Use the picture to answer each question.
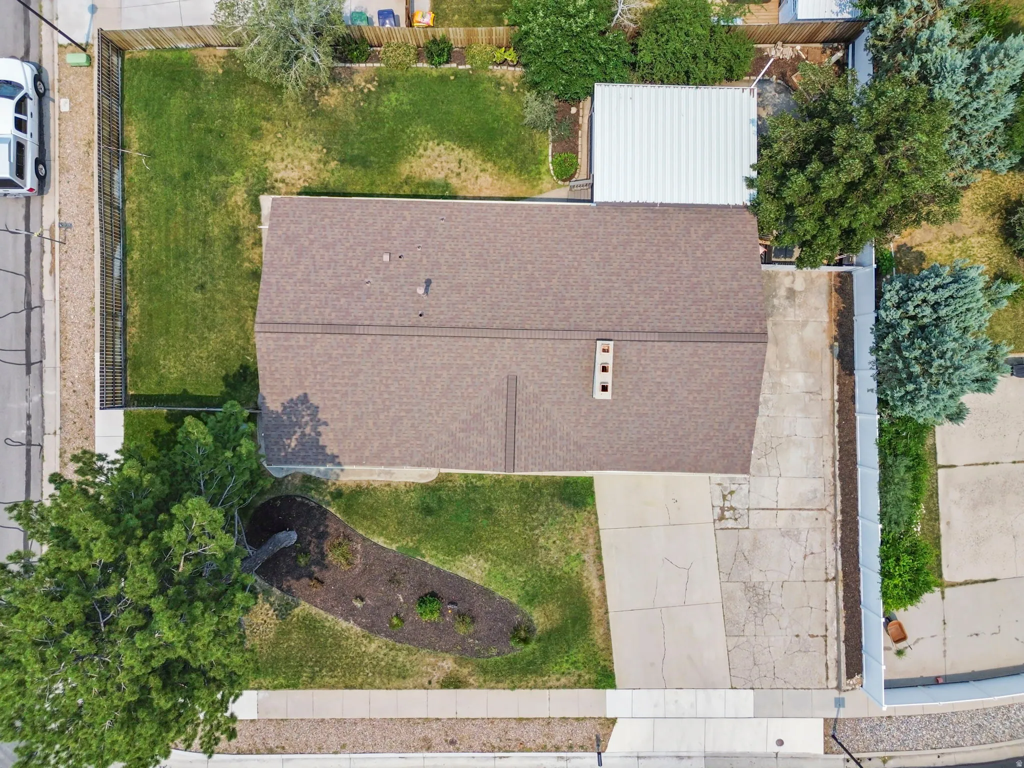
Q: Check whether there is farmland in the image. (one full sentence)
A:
No, there's no farmland in this view.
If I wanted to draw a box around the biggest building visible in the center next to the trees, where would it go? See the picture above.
[254,194,767,478]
